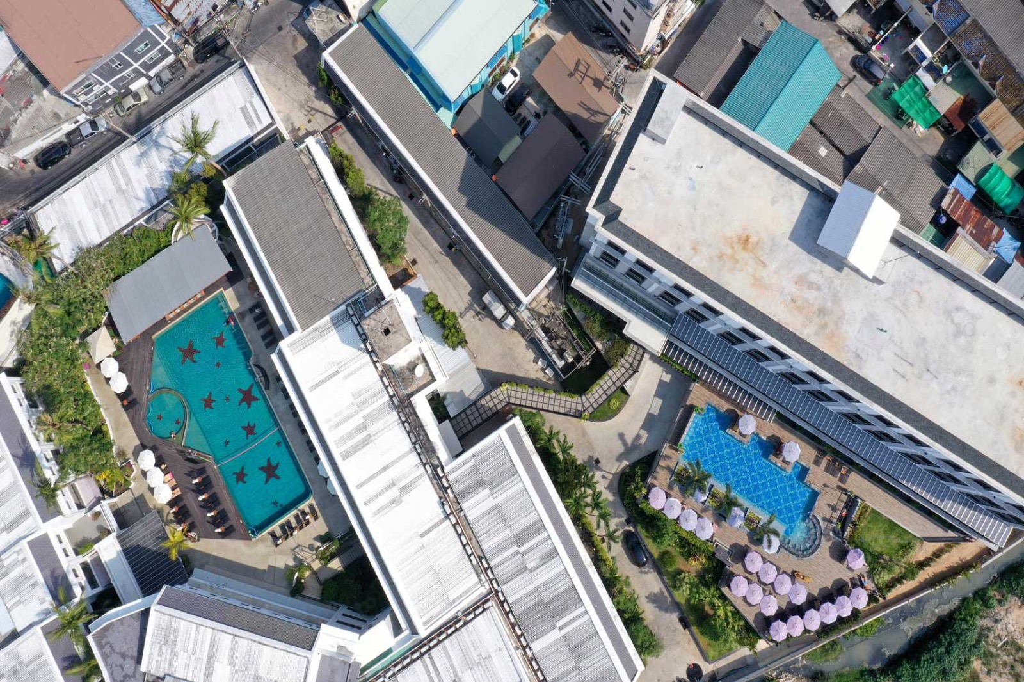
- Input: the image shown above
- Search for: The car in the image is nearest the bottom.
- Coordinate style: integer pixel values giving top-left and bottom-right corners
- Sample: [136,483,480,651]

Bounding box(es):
[619,528,650,568]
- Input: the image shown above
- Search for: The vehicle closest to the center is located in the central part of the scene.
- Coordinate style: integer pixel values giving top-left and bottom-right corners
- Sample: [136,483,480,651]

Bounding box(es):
[481,292,520,330]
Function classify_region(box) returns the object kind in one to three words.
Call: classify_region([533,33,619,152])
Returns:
house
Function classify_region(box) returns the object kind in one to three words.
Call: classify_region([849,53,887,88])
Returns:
car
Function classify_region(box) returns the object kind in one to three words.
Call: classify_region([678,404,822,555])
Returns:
swimming pool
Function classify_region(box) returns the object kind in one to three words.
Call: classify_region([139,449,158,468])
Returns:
umbrella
